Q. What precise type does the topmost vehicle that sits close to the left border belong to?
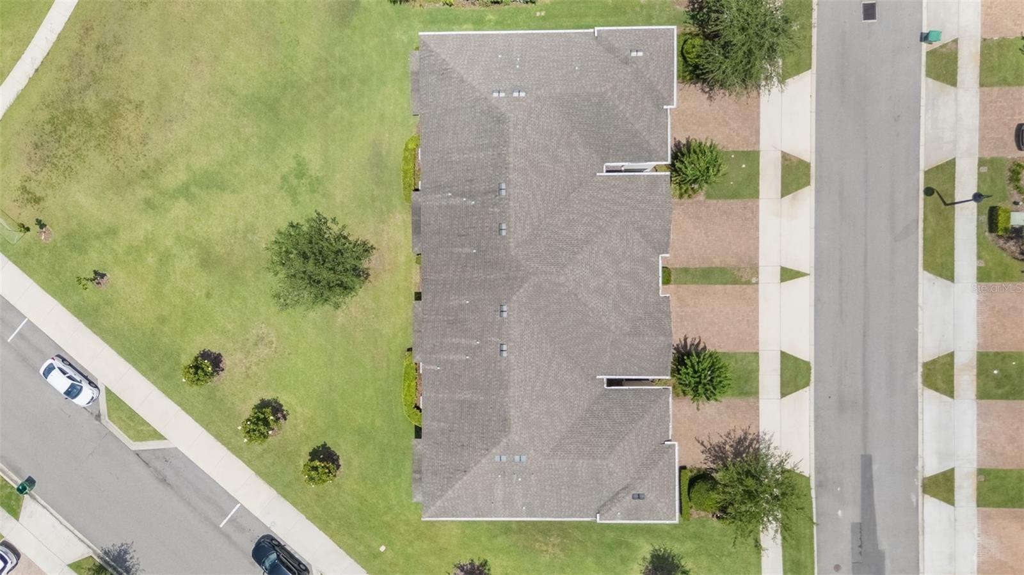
automobile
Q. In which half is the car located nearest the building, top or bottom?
bottom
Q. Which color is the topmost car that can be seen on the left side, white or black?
white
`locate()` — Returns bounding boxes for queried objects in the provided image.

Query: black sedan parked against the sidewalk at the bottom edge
[252,534,313,575]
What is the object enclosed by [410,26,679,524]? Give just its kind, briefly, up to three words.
building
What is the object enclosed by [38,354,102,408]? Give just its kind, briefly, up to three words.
car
